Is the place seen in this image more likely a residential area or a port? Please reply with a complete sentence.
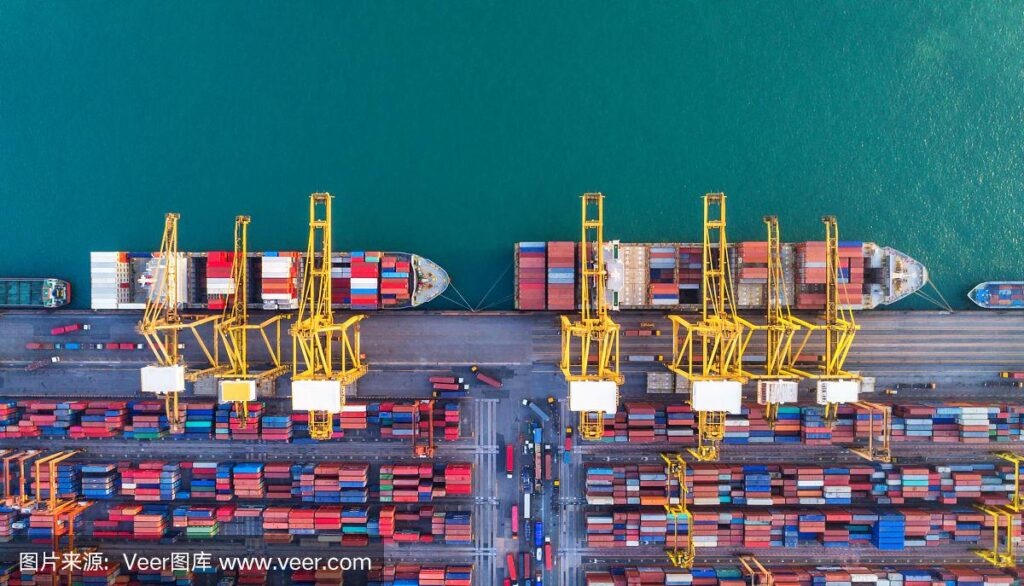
This image shows a port.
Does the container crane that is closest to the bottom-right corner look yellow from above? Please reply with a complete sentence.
Yes, yellow is the color of the container crane that is closest to the bottom-right corner.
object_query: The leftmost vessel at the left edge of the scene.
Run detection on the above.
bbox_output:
[0,277,74,308]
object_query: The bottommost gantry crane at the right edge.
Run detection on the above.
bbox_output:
[965,500,1014,570]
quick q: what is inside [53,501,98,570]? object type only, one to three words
container crane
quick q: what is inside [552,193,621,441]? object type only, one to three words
container crane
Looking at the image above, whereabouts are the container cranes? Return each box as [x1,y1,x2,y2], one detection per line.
[414,399,439,463]
[552,193,621,441]
[657,451,686,517]
[779,214,862,428]
[35,452,81,518]
[986,451,1024,516]
[689,400,720,462]
[965,500,1014,570]
[849,399,890,462]
[53,501,98,570]
[725,214,802,428]
[659,193,745,441]
[663,503,692,569]
[213,214,296,422]
[140,212,234,429]
[4,452,51,518]
[289,193,375,442]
